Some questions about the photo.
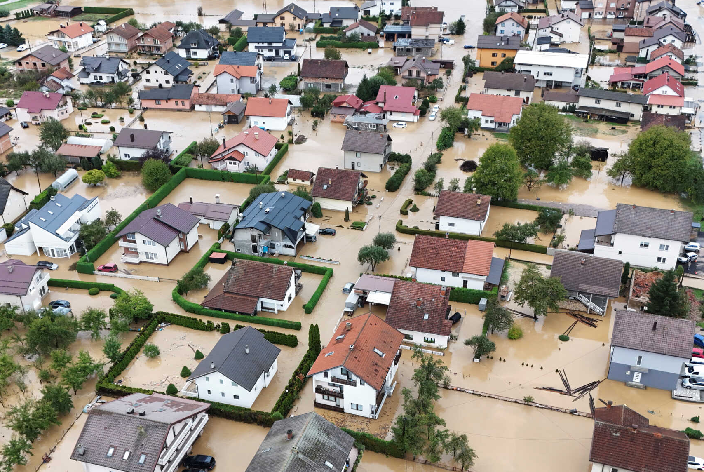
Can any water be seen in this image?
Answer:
Yes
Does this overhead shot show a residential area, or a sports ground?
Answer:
residential area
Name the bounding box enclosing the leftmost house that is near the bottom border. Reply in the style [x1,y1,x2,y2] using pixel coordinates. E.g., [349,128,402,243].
[69,390,212,472]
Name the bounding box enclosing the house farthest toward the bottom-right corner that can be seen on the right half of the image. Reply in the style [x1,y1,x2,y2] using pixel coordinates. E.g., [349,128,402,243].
[588,400,691,472]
